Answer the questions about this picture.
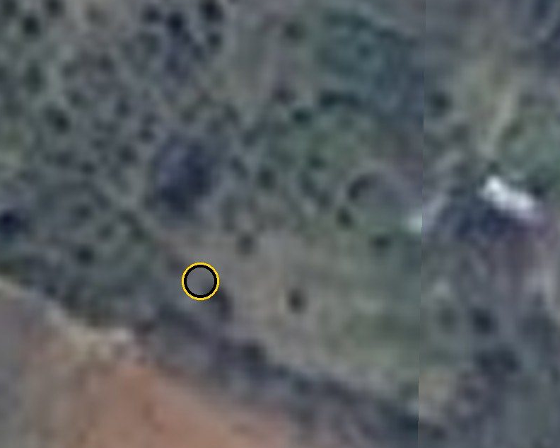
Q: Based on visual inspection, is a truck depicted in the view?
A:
No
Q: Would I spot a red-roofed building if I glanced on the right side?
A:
No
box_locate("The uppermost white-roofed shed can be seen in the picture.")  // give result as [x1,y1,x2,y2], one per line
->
[483,175,542,216]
